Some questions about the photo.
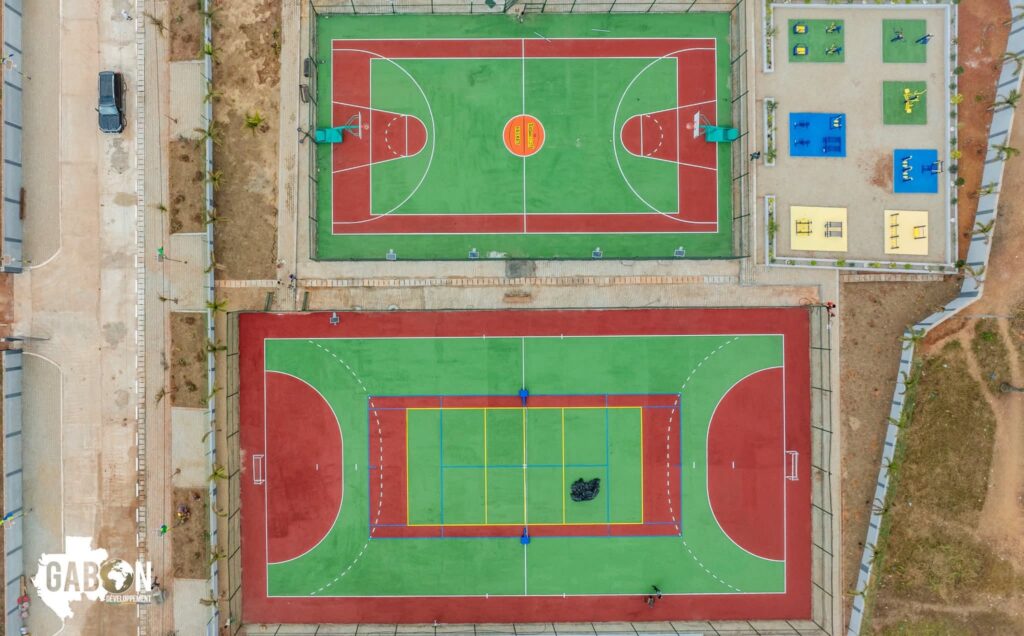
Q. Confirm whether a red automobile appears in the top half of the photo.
No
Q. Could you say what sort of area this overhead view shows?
sports ground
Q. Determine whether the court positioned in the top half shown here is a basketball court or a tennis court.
basketball court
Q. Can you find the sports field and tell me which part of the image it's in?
bottom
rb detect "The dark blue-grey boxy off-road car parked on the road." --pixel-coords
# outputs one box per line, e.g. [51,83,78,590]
[93,72,127,133]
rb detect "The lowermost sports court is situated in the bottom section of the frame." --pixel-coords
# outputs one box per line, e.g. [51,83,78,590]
[239,309,812,624]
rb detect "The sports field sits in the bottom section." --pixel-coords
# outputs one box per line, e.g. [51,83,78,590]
[265,336,785,596]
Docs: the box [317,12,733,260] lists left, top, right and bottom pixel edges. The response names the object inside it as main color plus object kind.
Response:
green basketball court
